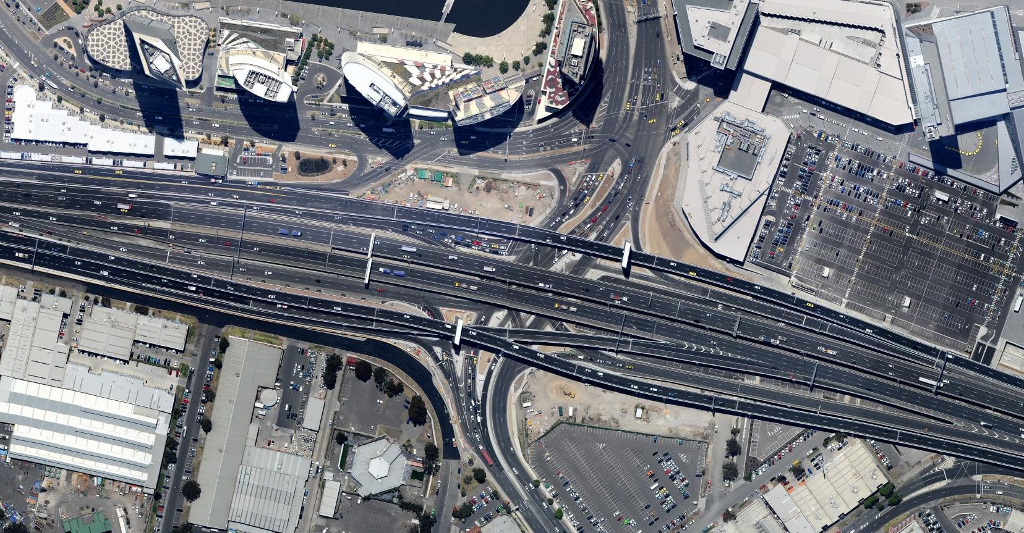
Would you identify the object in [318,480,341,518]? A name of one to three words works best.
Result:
shed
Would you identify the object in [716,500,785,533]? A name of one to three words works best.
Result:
building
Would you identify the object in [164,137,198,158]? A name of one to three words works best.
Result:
building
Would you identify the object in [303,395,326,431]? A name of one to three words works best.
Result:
shed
